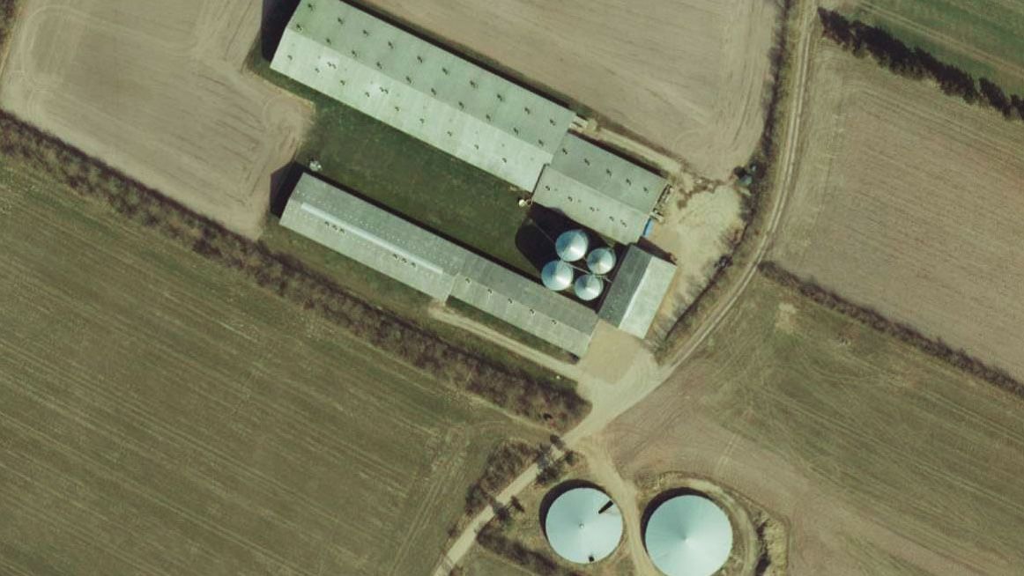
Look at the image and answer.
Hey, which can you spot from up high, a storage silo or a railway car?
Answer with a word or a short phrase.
storage silo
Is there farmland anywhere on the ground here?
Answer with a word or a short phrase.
Yes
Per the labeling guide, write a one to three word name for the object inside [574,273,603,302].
silo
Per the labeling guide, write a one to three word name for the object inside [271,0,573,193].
barn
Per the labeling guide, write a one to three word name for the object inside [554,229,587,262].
silo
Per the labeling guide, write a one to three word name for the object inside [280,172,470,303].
barn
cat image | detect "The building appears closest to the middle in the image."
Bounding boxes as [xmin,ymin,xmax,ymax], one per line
[449,254,599,356]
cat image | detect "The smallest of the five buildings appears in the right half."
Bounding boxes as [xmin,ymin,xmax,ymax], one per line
[598,246,677,338]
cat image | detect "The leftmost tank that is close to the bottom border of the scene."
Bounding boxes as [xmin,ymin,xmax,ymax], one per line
[544,487,622,565]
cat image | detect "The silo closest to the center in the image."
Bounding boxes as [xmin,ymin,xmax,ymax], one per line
[540,259,574,292]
